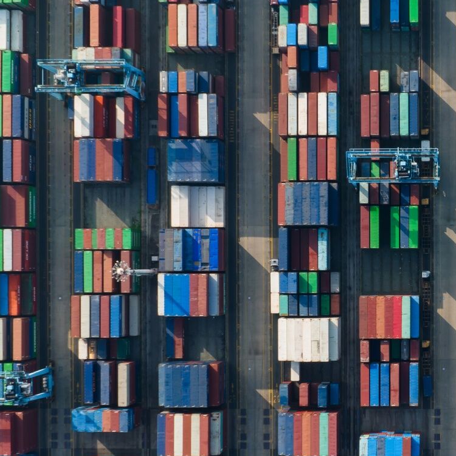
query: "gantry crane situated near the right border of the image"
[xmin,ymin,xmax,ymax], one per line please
[344,150,444,191]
